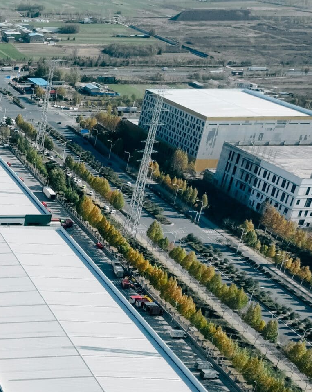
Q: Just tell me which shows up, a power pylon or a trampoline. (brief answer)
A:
power pylon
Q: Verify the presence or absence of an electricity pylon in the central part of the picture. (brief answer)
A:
Yes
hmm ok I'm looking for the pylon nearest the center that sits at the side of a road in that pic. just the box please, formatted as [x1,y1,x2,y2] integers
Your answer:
[119,88,168,237]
